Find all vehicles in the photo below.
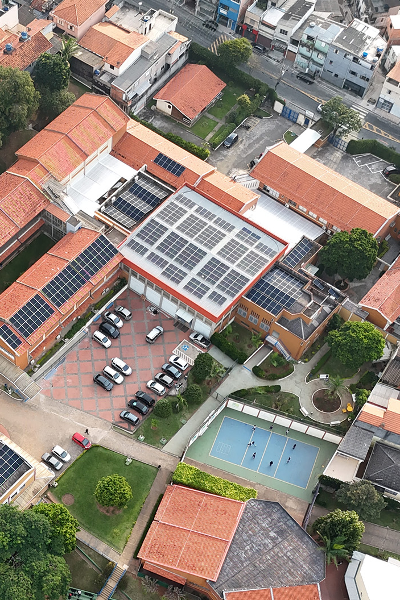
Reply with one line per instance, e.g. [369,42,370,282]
[128,399,150,417]
[313,102,330,115]
[114,305,133,322]
[103,312,124,328]
[154,374,176,389]
[94,375,113,391]
[99,321,120,338]
[134,390,157,408]
[188,333,213,350]
[93,332,112,348]
[202,21,220,32]
[120,411,141,427]
[50,445,73,464]
[223,133,239,148]
[111,355,132,376]
[40,452,64,470]
[146,326,164,344]
[146,380,168,398]
[71,434,92,450]
[103,365,123,385]
[169,356,190,372]
[161,364,183,380]
[297,71,314,85]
